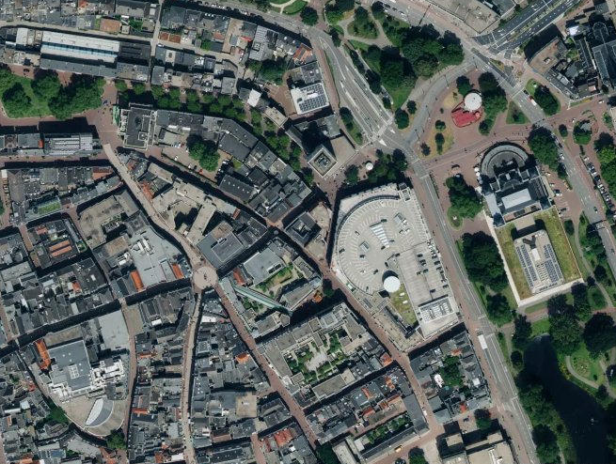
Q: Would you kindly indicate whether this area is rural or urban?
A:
urban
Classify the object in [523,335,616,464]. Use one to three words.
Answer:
pond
